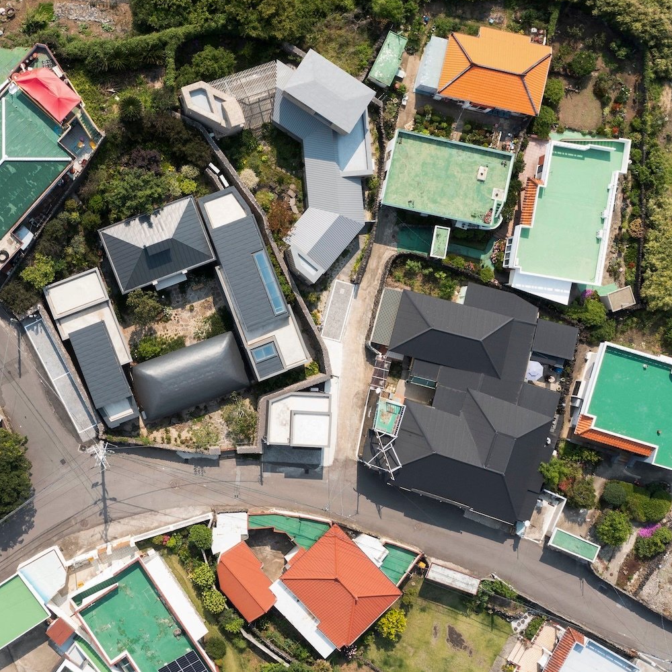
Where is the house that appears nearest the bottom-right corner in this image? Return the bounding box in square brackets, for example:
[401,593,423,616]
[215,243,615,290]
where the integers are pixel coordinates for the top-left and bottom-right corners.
[563,635,640,672]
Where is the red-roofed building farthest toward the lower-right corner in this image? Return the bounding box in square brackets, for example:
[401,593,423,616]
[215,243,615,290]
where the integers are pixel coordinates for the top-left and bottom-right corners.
[531,621,581,672]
